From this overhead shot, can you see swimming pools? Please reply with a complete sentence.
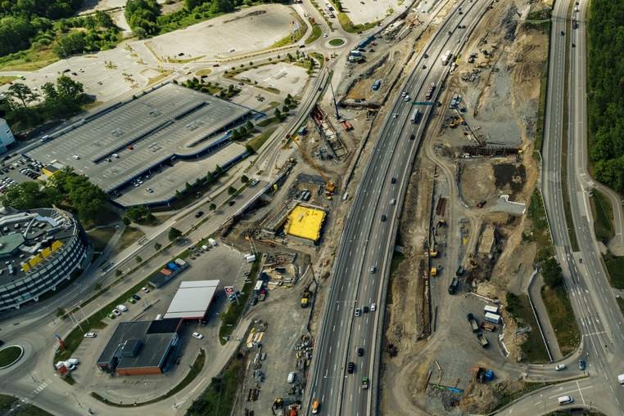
No, I can't see a single swimming pool in this photo.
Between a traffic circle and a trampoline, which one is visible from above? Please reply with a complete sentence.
Of the two, only a traffic circle appears.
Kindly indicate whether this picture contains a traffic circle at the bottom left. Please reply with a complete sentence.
Yes, a traffic circle can be seen at the bottom left.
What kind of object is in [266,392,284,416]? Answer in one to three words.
work vehicle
